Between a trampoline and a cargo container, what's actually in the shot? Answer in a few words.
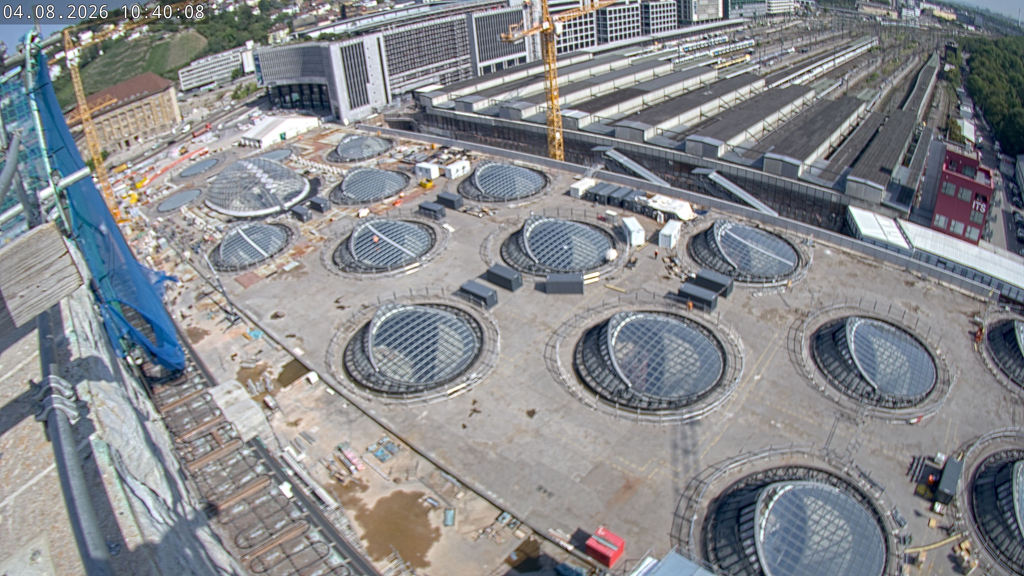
cargo container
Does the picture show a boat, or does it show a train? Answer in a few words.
train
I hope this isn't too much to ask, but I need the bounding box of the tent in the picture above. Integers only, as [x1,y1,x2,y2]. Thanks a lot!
[230,110,319,149]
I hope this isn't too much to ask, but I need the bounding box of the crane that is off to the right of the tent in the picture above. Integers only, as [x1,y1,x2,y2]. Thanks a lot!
[513,0,634,161]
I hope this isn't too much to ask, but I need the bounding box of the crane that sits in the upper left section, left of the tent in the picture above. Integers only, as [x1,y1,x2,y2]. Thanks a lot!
[48,0,228,220]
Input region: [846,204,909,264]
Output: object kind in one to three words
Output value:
building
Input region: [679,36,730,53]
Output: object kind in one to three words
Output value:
train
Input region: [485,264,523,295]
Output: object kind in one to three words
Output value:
shipping container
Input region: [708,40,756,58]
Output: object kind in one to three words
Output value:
train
